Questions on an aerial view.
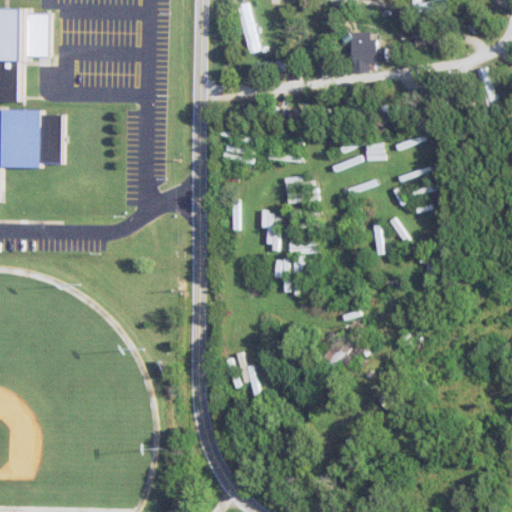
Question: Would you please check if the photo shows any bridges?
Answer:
No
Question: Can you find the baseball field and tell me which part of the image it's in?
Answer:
bottom left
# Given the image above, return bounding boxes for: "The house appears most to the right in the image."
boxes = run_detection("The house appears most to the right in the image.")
[481,67,498,103]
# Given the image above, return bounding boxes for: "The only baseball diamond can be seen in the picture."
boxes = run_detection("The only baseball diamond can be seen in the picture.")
[0,267,160,512]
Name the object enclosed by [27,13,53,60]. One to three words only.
building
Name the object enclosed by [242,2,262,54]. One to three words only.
house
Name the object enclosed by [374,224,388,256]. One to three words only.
house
